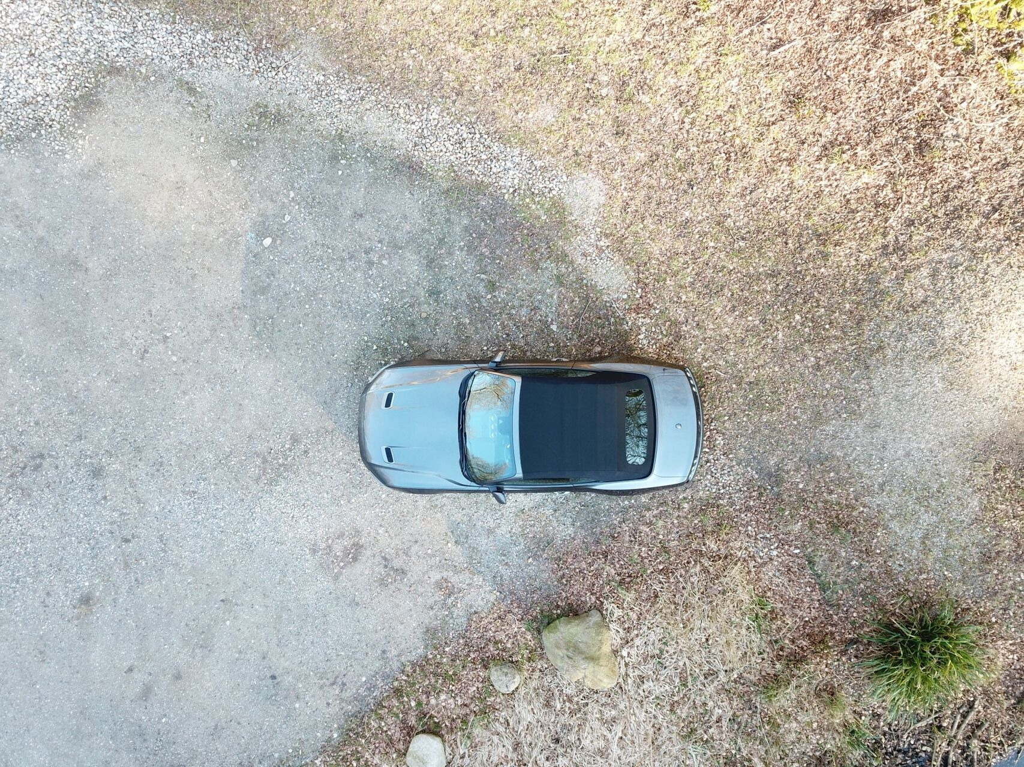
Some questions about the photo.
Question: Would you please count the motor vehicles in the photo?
one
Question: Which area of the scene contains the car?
center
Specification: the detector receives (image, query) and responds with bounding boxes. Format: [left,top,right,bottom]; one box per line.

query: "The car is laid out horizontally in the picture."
[358,351,703,506]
